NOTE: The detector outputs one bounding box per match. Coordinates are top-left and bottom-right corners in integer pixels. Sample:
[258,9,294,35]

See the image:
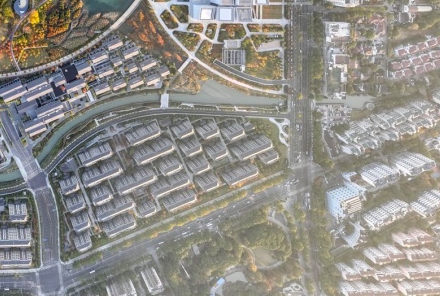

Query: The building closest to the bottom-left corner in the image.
[0,248,31,266]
